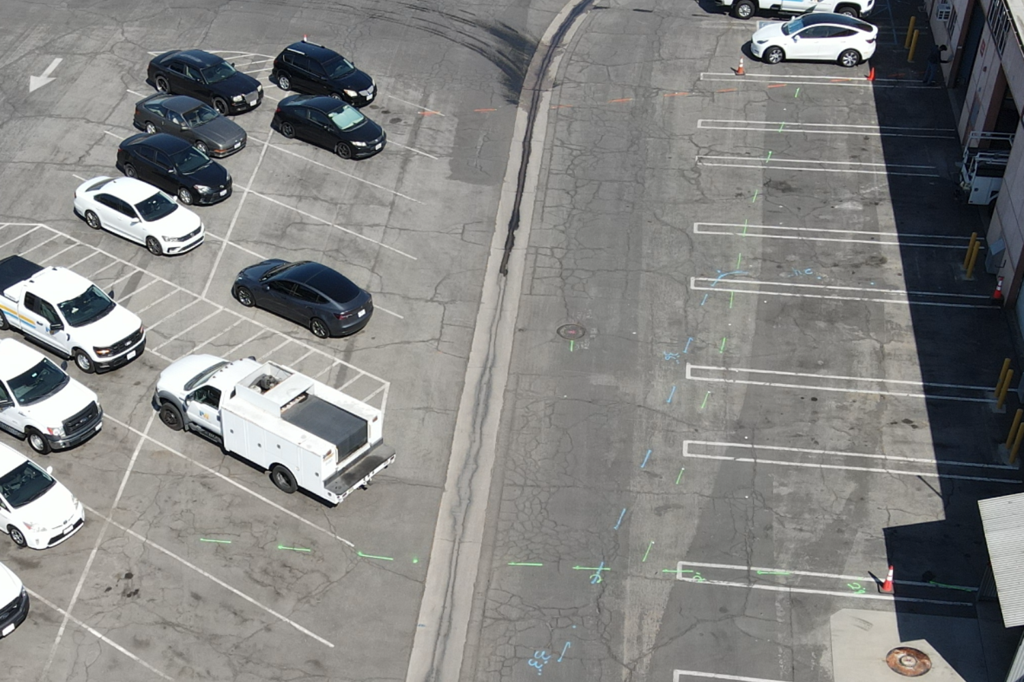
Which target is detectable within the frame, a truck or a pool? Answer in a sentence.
Of the two, only a truck appears.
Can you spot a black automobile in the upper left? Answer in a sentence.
Yes, a black automobile is visible in the upper left.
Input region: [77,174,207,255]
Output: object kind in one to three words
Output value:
car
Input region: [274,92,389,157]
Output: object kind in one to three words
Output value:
car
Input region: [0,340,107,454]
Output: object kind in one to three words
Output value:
truck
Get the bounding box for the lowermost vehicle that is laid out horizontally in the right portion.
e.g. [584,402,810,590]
[750,10,881,66]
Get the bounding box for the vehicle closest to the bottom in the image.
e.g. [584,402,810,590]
[0,569,30,636]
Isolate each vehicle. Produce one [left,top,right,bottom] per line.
[0,569,30,636]
[0,340,107,454]
[750,10,881,66]
[137,90,249,153]
[77,174,207,255]
[942,123,1015,205]
[115,130,234,202]
[710,0,873,18]
[0,254,149,372]
[272,35,379,105]
[274,92,389,157]
[237,255,377,338]
[148,352,397,509]
[0,445,84,547]
[149,47,269,114]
